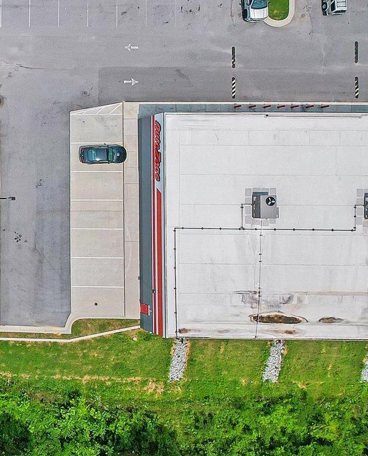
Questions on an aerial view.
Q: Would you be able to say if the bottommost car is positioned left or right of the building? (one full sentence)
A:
The bottommost car appears to the left of the building in this view.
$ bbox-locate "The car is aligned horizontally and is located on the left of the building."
[79,143,127,165]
